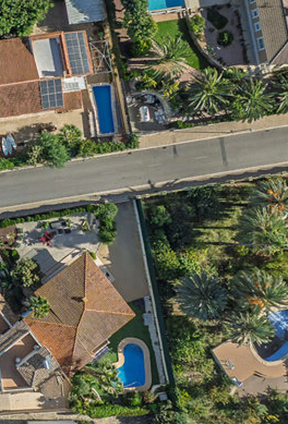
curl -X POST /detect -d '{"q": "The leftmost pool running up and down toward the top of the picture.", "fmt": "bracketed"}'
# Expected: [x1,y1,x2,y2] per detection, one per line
[91,84,117,135]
